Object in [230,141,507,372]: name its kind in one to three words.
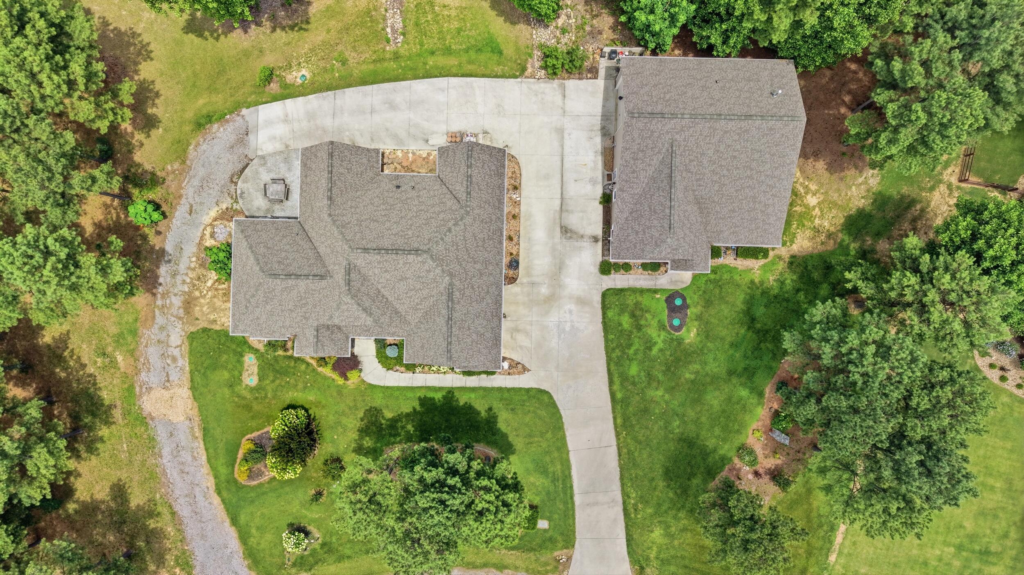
house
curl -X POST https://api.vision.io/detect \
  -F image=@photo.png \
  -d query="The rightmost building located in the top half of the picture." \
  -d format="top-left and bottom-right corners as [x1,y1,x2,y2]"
[602,56,806,273]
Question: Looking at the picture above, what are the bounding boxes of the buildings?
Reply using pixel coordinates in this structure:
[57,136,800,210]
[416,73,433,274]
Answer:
[230,141,507,372]
[602,56,806,273]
